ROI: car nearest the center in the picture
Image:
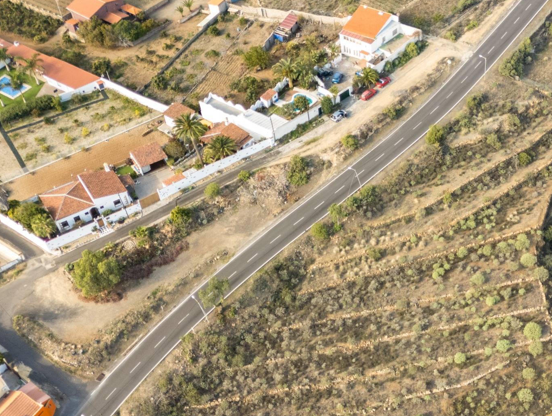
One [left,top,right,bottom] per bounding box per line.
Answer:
[327,105,350,123]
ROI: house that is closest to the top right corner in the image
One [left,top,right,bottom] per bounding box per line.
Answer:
[340,3,414,62]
